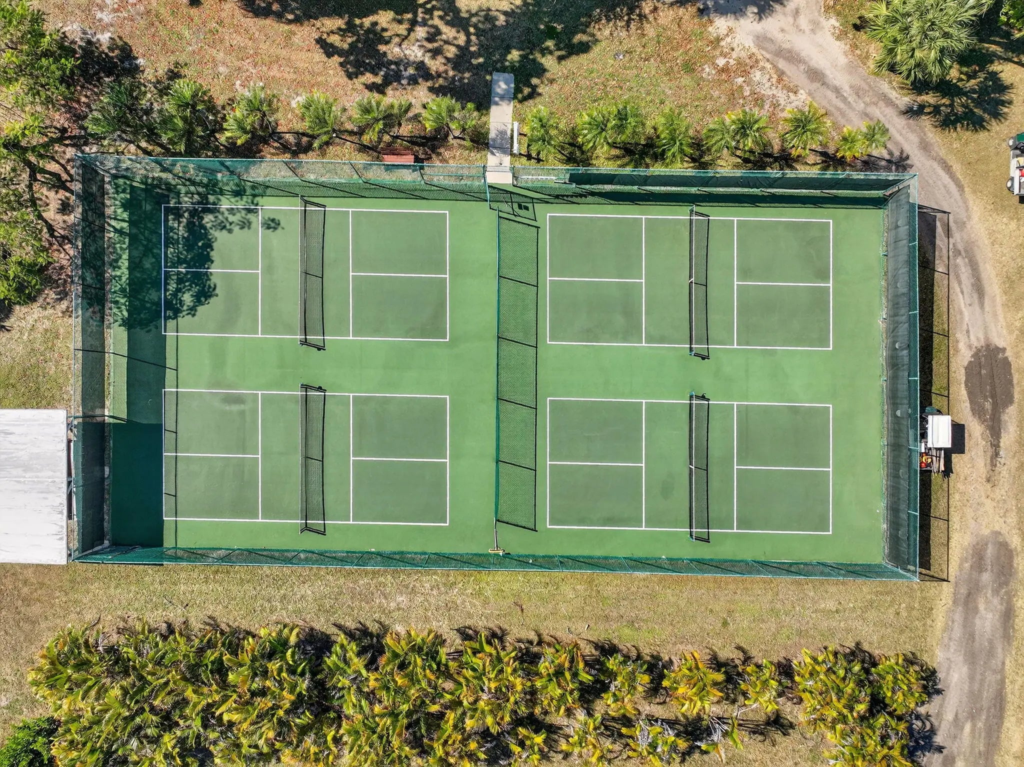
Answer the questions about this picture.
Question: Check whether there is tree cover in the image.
Yes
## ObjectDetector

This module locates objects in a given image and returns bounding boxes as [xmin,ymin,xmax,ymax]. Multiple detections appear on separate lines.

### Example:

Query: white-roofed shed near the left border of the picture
[0,408,82,565]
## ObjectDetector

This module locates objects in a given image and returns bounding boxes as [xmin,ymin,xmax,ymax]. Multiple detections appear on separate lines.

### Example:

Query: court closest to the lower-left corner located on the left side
[163,389,449,526]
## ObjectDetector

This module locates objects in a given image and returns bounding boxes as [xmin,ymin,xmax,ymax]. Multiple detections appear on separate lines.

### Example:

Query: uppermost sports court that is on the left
[162,205,449,341]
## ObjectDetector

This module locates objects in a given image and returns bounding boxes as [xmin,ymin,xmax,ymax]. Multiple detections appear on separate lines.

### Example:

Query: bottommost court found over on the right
[548,398,832,534]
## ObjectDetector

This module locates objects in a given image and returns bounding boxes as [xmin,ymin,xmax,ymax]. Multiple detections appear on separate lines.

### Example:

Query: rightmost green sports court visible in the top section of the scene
[548,214,832,349]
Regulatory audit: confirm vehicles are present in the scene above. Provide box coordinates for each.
[909,405,951,471]
[1006,133,1024,197]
